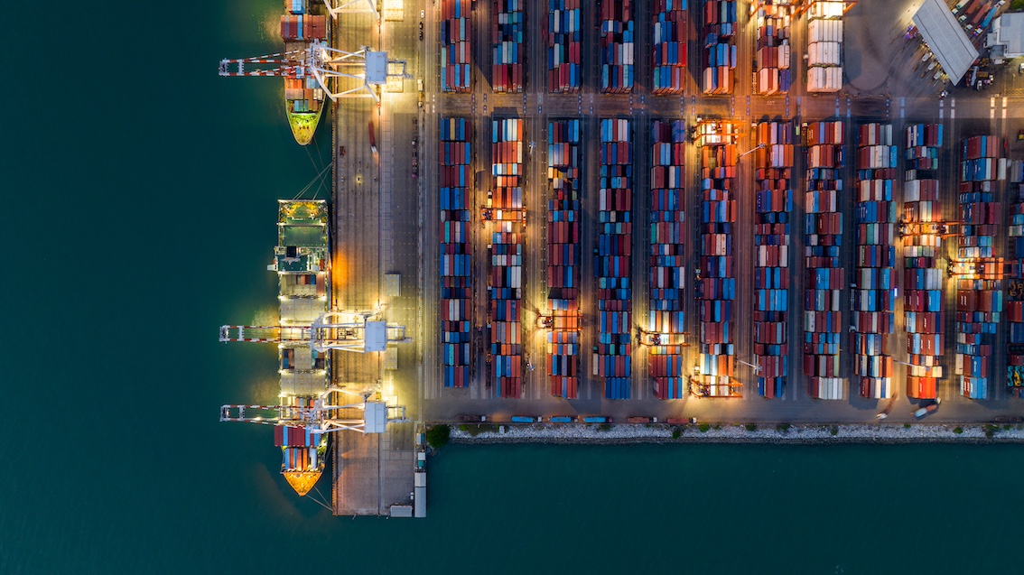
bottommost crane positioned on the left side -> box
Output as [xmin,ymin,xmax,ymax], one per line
[220,382,413,434]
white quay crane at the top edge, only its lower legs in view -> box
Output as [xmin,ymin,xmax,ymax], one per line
[322,0,380,27]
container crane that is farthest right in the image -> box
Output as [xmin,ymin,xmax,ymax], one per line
[952,258,1023,279]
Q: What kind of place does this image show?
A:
port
